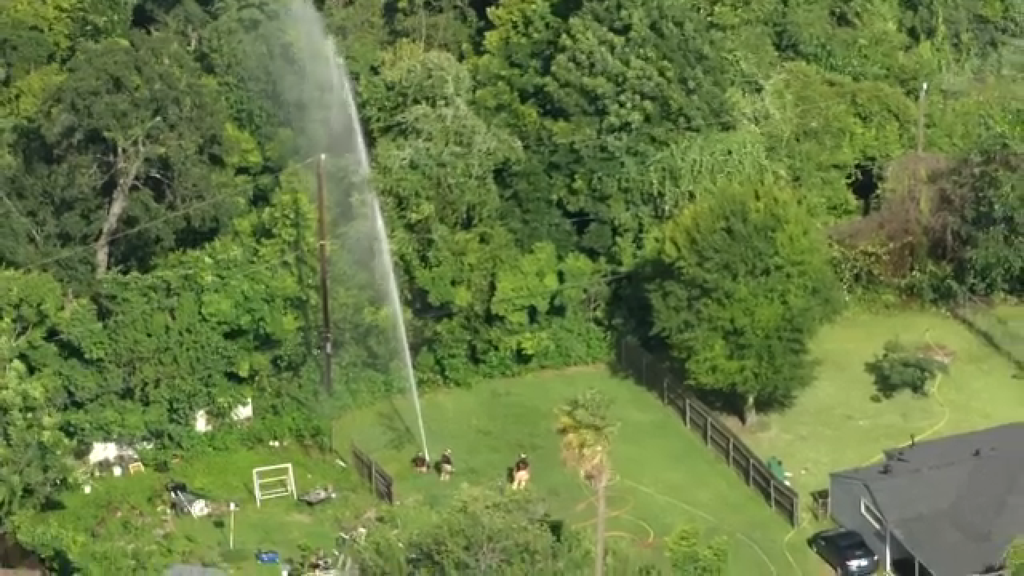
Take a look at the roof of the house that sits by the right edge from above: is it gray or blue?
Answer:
gray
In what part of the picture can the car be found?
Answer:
bottom right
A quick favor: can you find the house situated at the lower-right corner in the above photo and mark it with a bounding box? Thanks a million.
[823,414,1024,576]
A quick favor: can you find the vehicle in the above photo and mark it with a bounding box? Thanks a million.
[808,527,879,576]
